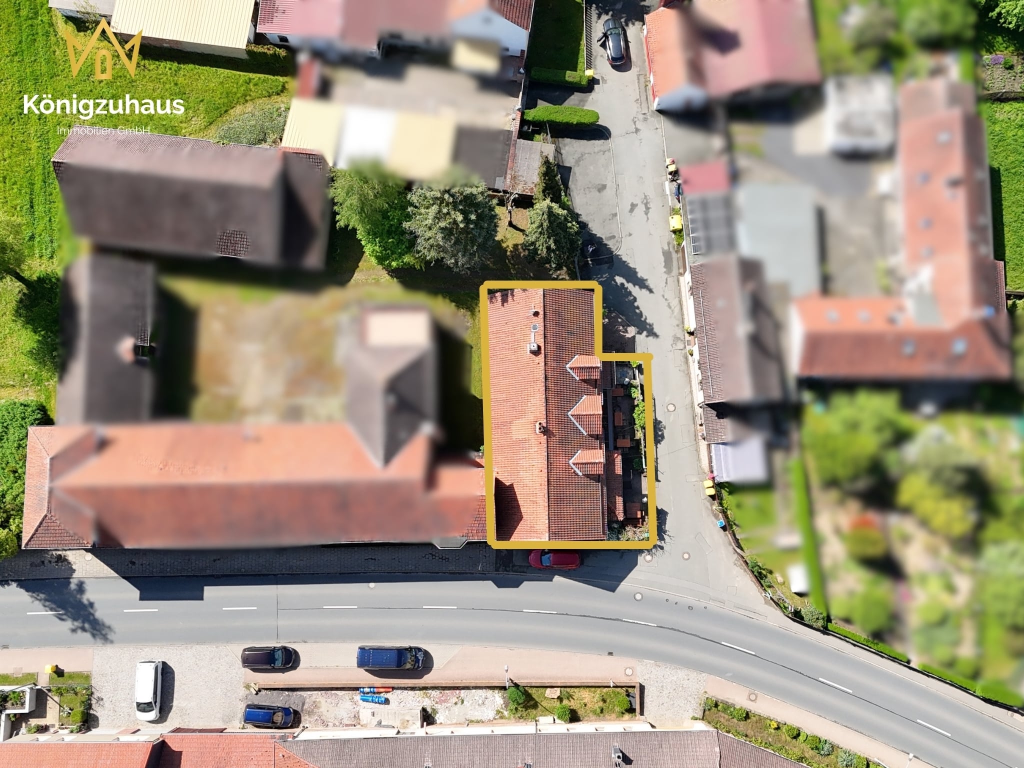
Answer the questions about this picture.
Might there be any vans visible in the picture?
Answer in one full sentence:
Yes, the image includes a van.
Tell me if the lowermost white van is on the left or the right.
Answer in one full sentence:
The lowermost white van appears in the left half of the scene.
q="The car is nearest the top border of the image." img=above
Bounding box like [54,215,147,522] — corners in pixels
[595,23,629,71]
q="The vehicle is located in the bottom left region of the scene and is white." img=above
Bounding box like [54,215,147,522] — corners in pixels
[130,659,168,723]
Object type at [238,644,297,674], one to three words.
car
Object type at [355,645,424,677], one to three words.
van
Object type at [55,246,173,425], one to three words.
building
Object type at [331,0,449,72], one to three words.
house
